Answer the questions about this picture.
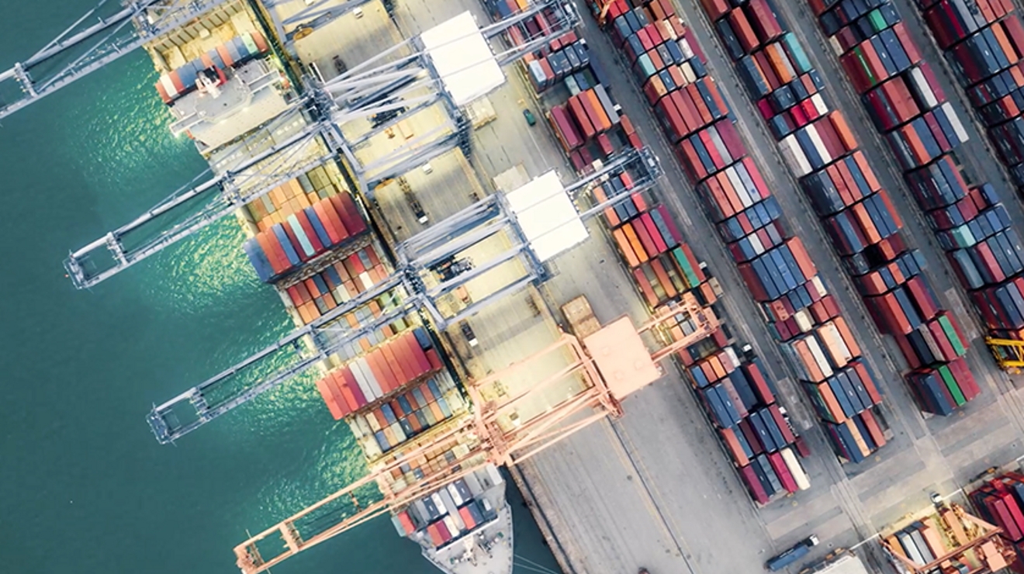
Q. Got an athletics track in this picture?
No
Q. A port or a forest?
port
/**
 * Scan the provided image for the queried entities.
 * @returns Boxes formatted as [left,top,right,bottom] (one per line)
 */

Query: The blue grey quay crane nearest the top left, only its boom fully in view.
[0,0,399,128]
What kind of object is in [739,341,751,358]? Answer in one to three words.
vehicle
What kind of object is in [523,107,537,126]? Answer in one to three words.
vehicle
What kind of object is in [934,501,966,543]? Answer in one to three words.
shipping container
